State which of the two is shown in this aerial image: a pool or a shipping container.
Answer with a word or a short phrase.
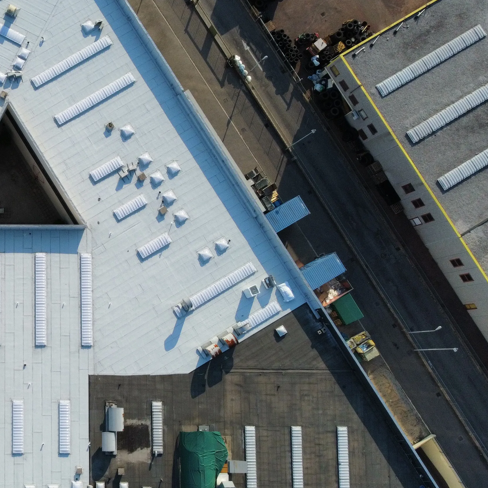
shipping container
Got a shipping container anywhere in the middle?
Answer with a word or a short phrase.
Yes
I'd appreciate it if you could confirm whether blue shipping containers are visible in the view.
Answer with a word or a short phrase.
Yes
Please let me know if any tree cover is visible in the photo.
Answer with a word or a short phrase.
No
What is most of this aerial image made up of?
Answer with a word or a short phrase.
buildings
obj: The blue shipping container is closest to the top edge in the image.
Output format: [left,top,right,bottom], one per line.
[261,195,310,234]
